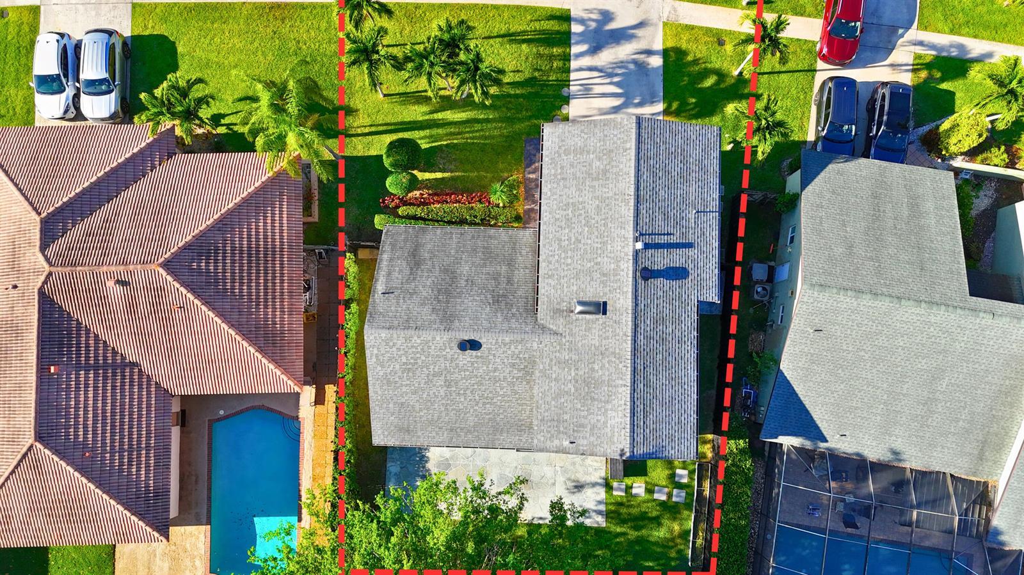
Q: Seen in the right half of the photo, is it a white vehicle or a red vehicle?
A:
red vehicle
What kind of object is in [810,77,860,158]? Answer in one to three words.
car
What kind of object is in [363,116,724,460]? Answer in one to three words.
house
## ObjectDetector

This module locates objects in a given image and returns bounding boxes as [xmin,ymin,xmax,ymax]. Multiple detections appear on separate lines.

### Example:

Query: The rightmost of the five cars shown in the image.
[859,80,913,165]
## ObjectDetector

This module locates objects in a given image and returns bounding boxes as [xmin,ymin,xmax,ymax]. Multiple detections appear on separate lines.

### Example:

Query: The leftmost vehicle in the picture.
[32,35,83,121]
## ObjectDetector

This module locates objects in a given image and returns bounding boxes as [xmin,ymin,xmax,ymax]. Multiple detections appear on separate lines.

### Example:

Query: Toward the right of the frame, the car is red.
[815,0,867,66]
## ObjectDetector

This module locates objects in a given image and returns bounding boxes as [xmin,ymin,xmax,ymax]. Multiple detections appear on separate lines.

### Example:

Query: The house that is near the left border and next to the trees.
[0,124,308,551]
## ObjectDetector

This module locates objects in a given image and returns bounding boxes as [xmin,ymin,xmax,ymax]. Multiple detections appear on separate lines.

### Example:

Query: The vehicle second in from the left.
[76,31,131,123]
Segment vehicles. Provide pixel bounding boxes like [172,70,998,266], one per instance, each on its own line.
[810,77,860,158]
[859,80,913,165]
[815,0,867,66]
[32,35,83,121]
[76,31,131,123]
